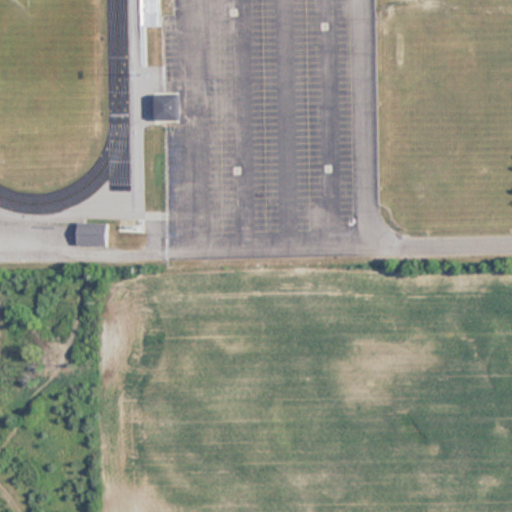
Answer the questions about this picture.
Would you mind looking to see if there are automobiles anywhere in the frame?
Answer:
No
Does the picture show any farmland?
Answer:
Yes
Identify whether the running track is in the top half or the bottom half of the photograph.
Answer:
top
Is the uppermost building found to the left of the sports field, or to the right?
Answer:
to its right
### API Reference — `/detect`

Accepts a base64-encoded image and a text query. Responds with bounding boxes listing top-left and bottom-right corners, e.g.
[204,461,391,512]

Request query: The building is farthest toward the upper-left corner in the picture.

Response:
[153,94,178,120]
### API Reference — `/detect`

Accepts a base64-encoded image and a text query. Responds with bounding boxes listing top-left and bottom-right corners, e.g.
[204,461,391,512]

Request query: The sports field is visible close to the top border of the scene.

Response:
[0,0,109,194]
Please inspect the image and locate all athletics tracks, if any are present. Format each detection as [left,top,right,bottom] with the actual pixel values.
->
[0,0,130,214]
